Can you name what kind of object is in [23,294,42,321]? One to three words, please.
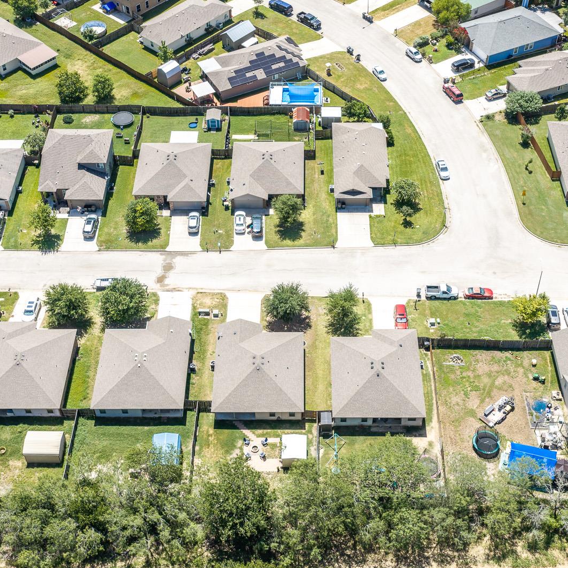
car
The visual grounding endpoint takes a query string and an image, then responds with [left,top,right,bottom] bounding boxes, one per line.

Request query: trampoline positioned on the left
[111,115,133,131]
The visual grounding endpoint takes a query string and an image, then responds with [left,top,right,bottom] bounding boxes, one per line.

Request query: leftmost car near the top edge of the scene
[268,0,292,13]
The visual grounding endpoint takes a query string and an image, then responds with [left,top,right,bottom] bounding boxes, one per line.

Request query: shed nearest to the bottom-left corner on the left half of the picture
[17,437,64,475]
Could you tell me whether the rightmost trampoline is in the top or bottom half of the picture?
bottom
